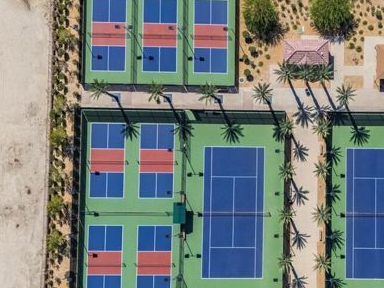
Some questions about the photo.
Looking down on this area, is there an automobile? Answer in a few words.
No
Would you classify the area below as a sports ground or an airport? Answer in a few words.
sports ground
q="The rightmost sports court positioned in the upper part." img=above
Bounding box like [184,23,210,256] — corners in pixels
[186,0,236,85]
